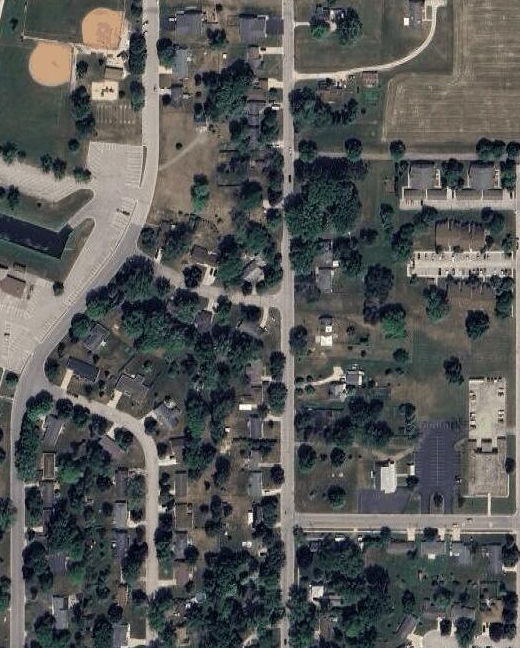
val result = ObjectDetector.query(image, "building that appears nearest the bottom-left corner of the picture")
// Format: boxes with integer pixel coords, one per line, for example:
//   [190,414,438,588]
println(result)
[53,597,67,629]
